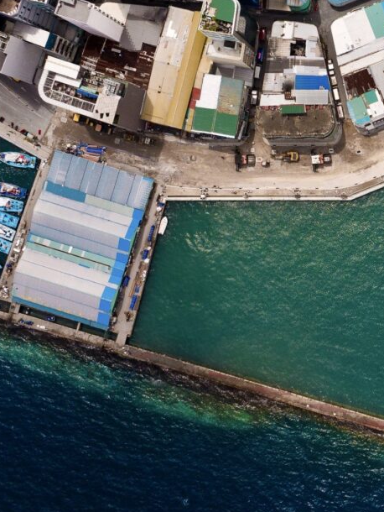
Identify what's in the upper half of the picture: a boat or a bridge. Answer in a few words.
boat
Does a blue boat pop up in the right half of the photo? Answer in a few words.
No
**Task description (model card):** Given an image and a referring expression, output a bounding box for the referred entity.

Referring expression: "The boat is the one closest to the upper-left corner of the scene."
[0,151,40,170]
